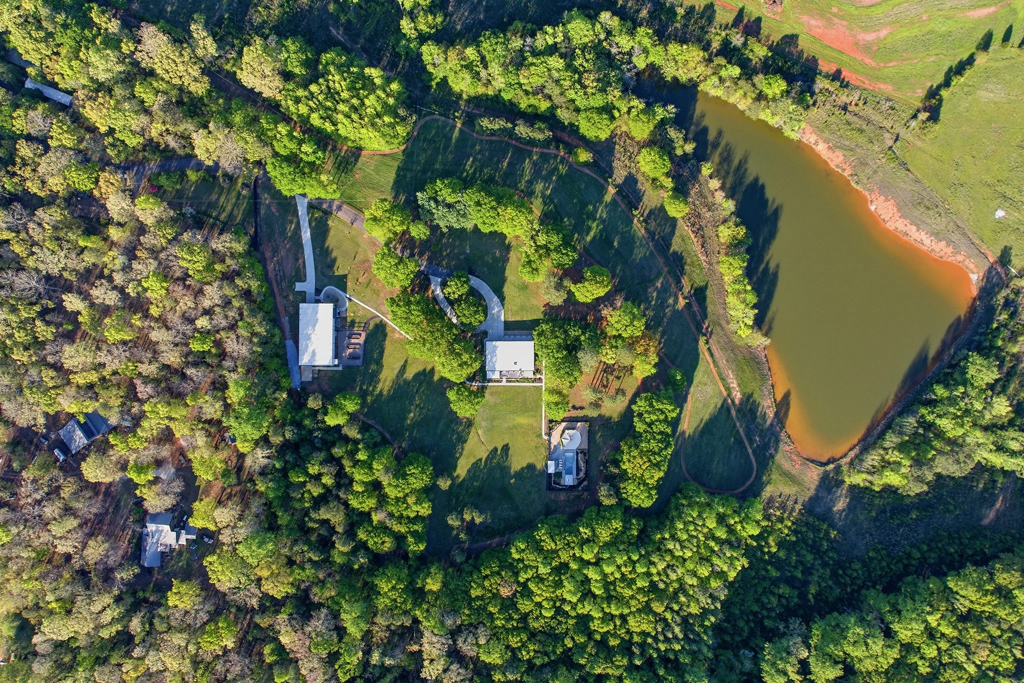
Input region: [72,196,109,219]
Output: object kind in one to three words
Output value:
house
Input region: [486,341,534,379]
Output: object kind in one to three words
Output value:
house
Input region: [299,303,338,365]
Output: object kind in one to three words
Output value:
barn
